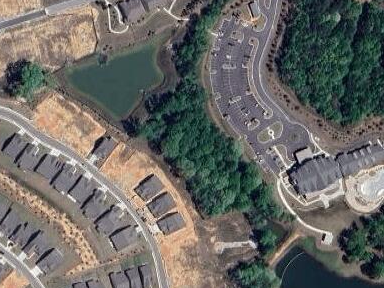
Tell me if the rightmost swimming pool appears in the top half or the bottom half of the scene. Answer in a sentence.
The bottom half of the photo is where the rightmost swimming pool is.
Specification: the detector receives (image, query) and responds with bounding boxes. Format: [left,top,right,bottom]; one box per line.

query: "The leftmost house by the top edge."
[121,0,147,24]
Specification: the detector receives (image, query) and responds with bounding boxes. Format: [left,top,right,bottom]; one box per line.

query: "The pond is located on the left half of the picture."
[66,38,162,118]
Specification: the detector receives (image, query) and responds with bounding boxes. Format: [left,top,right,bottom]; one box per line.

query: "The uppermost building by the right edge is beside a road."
[289,144,384,196]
